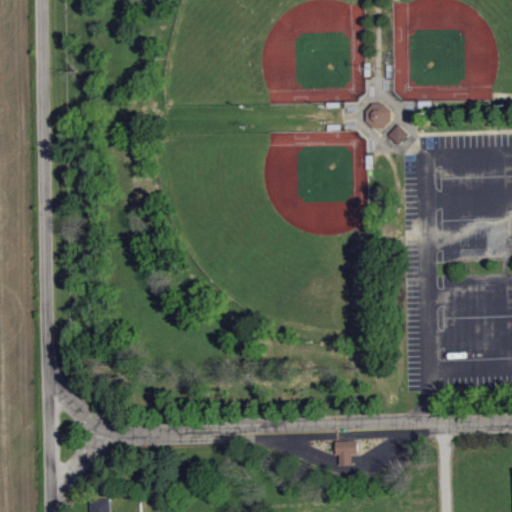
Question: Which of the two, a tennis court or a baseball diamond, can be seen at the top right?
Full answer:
Visible at the top right is a baseball diamond.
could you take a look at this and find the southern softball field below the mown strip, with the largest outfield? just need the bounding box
[164,132,368,333]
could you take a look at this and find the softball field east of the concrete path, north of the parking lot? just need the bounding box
[394,0,512,101]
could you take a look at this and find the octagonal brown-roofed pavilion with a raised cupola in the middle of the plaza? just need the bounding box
[366,102,392,128]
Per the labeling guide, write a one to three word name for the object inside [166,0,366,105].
baseball field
